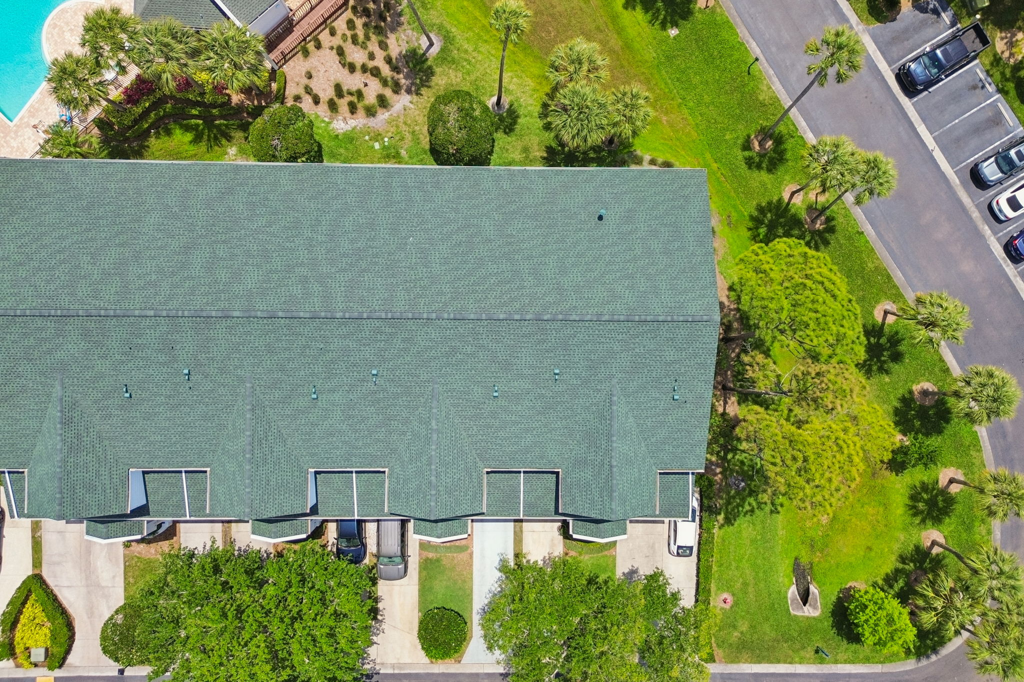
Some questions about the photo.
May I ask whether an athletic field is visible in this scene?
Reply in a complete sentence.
No, the frame has no athletic field in it.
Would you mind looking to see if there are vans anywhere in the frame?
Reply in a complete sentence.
Yes, the picture does show a van.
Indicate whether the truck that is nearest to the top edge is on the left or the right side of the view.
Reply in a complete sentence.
The truck that is nearest to the top edge appears in the right half of the scene.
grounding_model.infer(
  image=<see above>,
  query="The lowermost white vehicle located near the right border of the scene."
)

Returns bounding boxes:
[990,182,1024,225]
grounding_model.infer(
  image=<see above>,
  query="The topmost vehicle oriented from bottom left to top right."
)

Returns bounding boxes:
[895,20,992,95]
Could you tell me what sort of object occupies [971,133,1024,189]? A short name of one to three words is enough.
car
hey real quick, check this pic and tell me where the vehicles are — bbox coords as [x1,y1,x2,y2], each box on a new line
[373,520,410,580]
[1005,229,1024,263]
[895,20,992,95]
[990,182,1024,225]
[668,493,704,558]
[329,520,365,564]
[971,133,1024,189]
